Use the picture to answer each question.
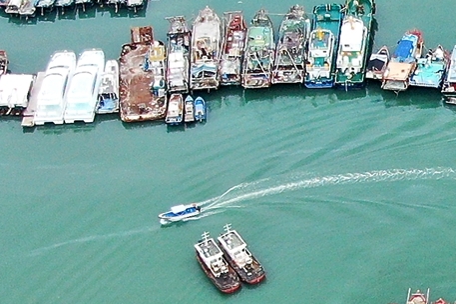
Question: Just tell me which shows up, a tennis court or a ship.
ship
